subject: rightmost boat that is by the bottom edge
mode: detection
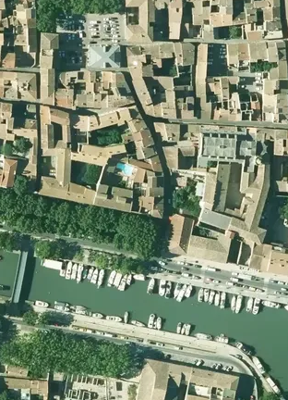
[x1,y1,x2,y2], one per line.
[264,374,282,395]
